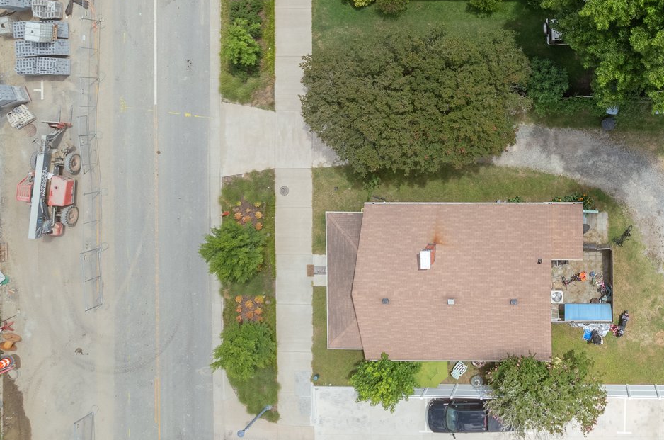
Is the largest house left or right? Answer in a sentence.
The largest house appears in the right half of the scene.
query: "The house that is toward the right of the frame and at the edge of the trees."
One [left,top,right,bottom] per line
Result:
[326,201,583,362]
